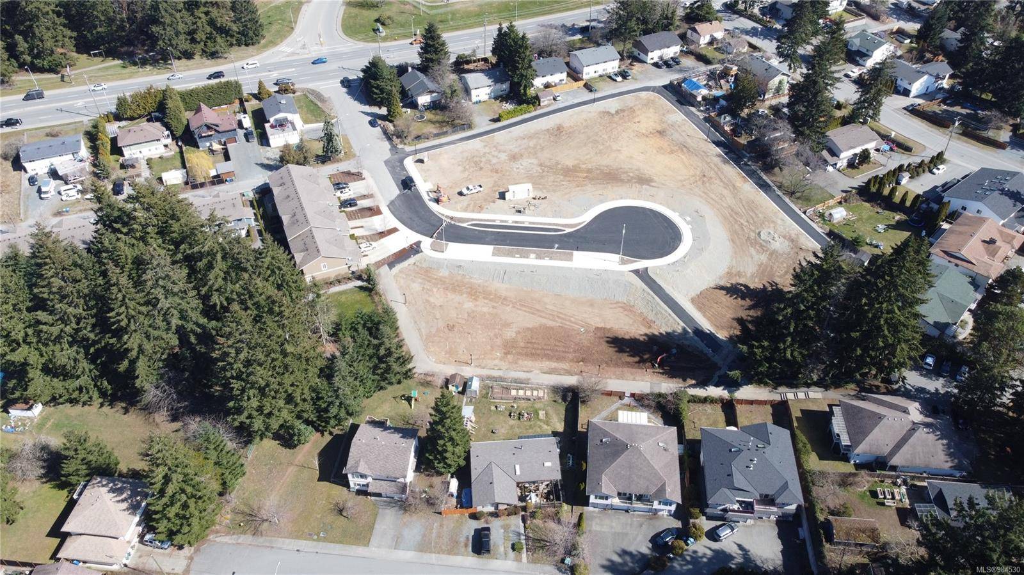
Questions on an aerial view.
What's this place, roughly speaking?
residential area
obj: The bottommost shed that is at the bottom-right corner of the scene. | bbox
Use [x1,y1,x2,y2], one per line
[826,516,881,550]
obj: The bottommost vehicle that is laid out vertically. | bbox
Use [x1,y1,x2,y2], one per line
[479,523,492,555]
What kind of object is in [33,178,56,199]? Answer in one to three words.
vehicle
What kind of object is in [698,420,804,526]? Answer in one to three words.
house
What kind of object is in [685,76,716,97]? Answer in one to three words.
shed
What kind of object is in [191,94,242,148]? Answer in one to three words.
house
